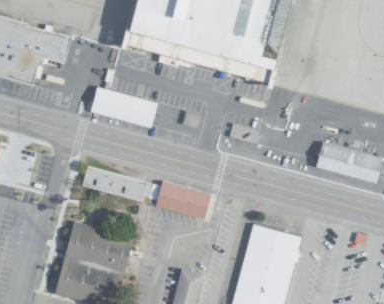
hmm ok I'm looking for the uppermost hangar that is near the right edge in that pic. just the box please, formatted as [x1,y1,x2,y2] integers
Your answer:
[316,142,383,183]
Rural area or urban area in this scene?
urban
